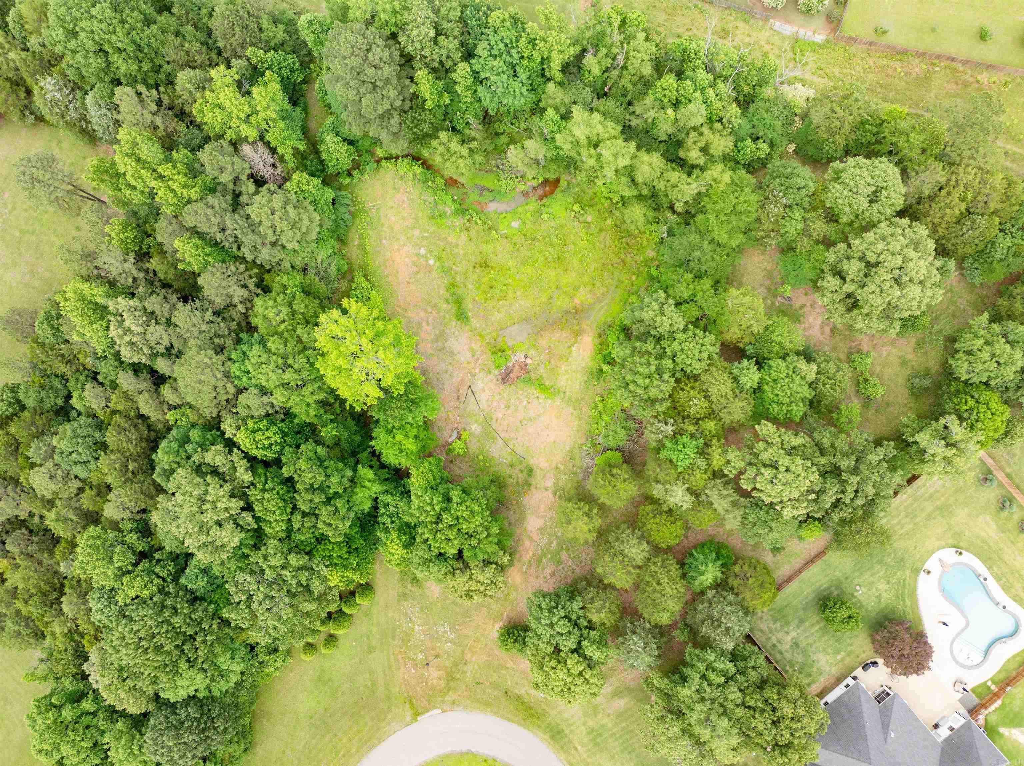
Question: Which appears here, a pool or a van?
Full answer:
This aerial view contains a pool.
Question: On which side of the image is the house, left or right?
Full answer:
It is on the right.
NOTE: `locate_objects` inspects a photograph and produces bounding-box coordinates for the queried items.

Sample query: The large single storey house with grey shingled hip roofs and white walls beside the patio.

[797,677,1008,766]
